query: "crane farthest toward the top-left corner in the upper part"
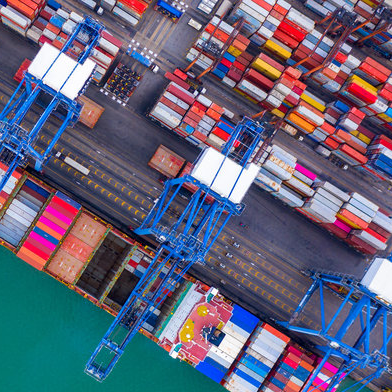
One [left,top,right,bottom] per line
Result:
[0,12,105,190]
